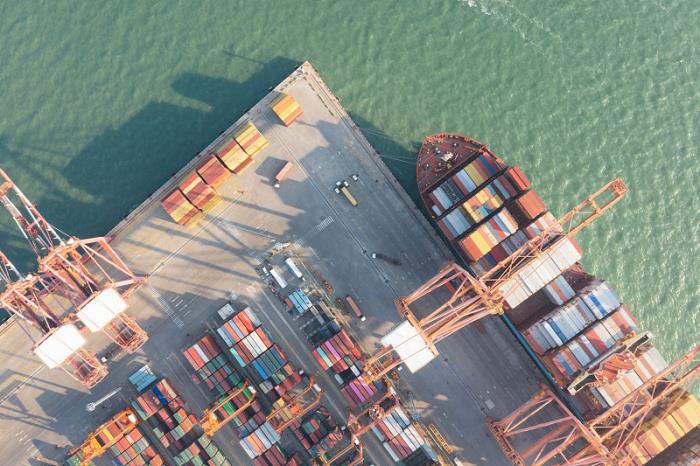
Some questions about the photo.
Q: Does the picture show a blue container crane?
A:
No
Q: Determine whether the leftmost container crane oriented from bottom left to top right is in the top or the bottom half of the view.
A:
bottom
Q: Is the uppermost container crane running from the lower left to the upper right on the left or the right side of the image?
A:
right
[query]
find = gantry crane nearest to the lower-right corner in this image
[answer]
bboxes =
[486,339,700,466]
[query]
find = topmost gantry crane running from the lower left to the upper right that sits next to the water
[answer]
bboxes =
[353,176,628,383]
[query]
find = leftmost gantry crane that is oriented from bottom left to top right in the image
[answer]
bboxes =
[68,402,147,466]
